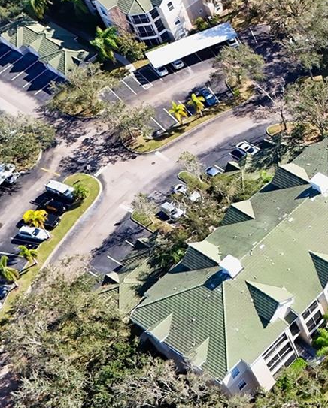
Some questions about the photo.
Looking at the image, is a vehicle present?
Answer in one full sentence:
Yes, the image includes a vehicle.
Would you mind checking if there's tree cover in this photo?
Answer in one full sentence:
Yes, the picture does contain tree cover.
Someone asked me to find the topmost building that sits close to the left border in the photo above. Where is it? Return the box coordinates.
[0,6,96,76]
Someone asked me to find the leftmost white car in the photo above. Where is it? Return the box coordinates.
[16,226,46,243]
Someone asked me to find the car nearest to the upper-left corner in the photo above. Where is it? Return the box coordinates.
[149,62,168,79]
